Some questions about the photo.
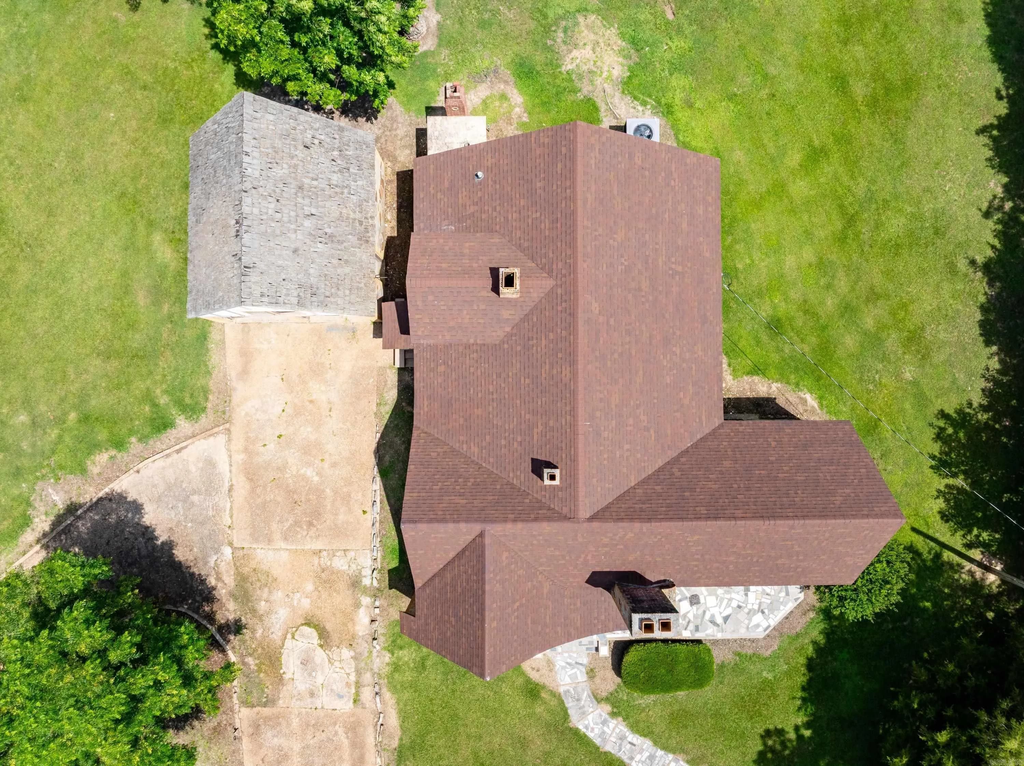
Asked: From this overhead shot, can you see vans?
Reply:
No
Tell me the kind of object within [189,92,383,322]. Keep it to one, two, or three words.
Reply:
building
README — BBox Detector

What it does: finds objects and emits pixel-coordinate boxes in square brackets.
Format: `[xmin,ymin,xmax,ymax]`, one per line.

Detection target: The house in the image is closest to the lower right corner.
[382,122,905,682]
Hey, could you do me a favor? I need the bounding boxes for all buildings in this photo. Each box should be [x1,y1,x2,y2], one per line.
[189,92,383,322]
[382,122,905,682]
